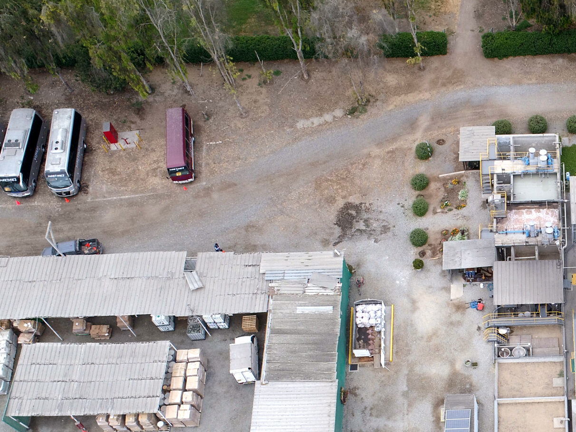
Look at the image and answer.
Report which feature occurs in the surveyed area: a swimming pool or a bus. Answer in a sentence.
There is a bus in the scene.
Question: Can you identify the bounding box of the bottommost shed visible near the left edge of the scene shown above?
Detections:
[4,341,179,432]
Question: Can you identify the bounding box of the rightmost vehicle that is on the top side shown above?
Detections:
[164,108,198,188]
